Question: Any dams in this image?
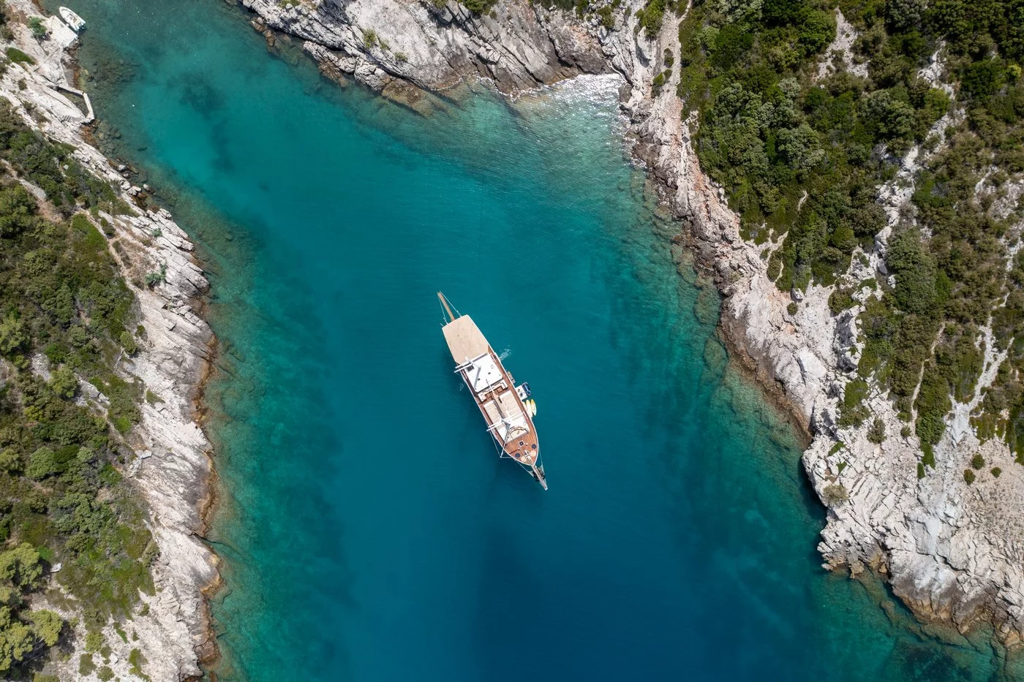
No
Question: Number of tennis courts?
0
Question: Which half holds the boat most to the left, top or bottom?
top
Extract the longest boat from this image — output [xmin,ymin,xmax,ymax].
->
[438,293,548,493]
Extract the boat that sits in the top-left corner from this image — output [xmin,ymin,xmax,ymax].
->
[58,5,87,35]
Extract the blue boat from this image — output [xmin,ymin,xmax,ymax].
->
[520,382,532,397]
